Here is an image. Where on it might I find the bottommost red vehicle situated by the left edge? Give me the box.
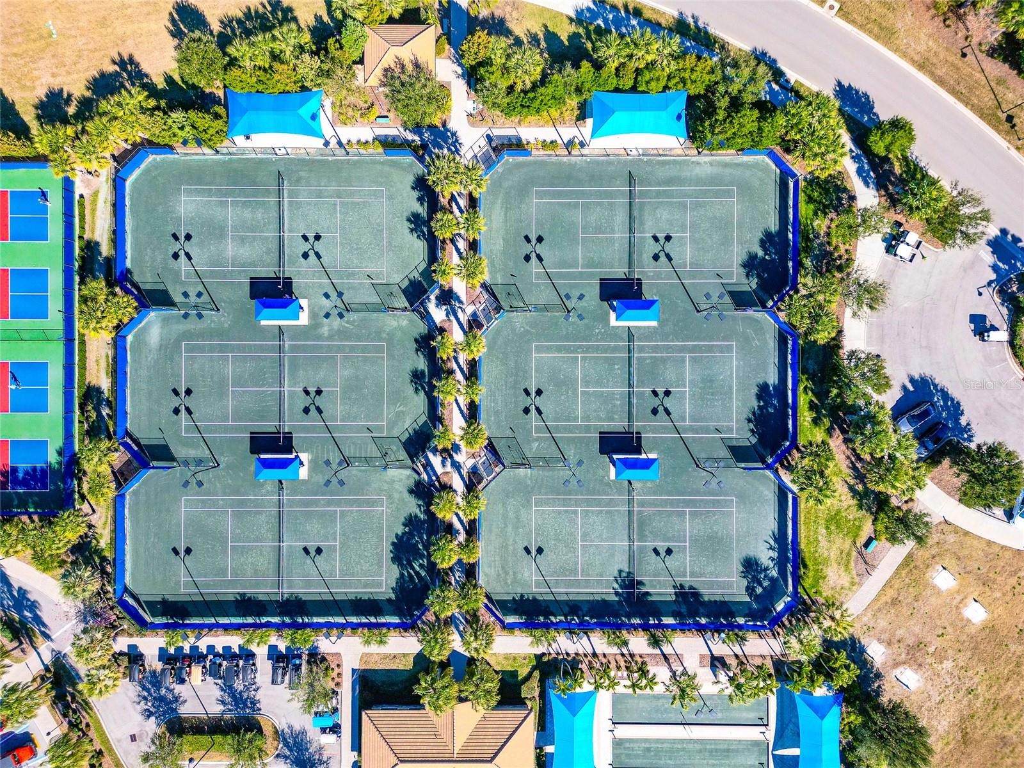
[2,740,41,768]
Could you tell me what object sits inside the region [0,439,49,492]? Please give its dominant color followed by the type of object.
blue sports court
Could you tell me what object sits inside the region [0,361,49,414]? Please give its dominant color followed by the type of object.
blue sports court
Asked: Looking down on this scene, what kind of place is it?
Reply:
sports ground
